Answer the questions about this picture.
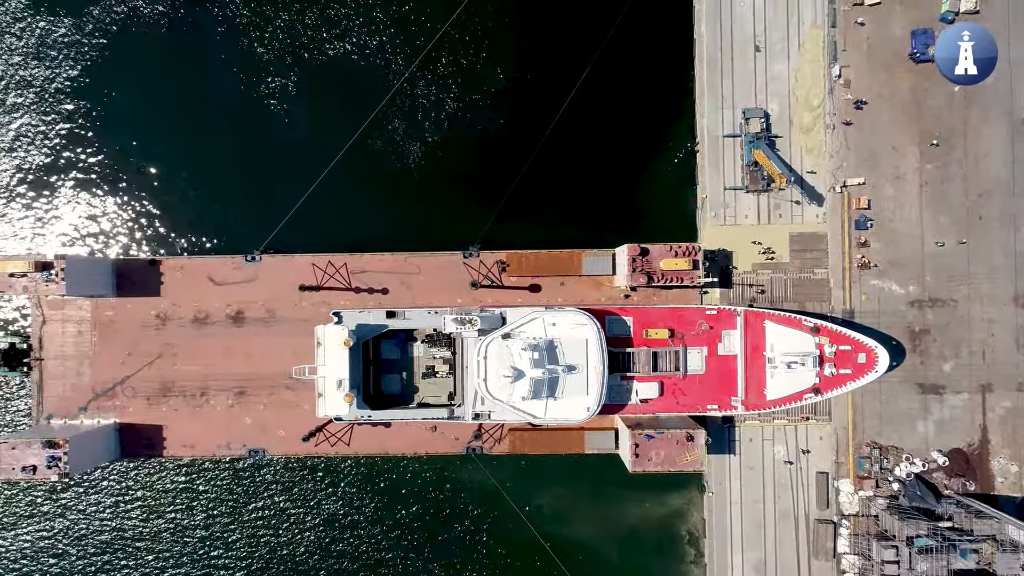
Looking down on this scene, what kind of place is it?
port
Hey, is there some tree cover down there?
No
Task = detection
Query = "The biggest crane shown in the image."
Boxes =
[722,107,822,204]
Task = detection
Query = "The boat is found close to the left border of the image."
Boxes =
[0,336,32,375]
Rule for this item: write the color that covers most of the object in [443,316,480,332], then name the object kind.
white boat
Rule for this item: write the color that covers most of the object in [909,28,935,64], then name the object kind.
blue trailer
